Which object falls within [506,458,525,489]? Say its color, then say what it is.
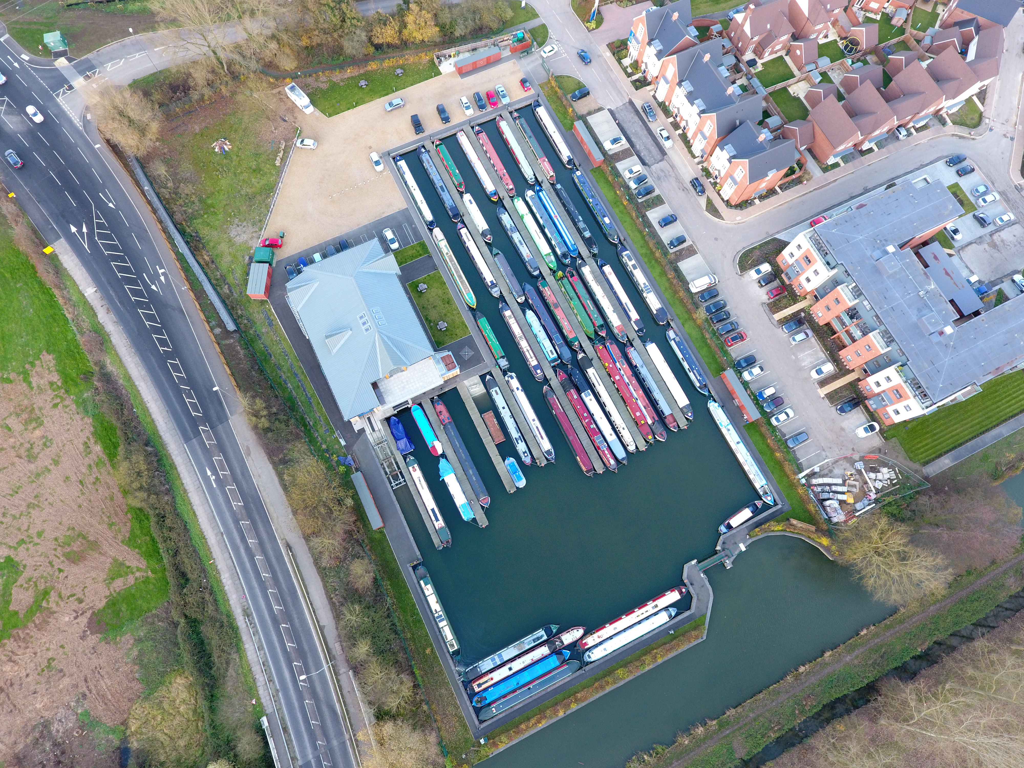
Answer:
blue boat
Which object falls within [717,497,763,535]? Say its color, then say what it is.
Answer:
white boat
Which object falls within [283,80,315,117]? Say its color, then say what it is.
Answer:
white camper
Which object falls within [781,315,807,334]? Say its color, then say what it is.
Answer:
blue car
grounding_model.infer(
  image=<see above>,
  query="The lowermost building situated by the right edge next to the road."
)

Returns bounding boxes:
[777,182,1024,426]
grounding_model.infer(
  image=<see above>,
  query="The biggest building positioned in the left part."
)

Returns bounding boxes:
[286,236,461,429]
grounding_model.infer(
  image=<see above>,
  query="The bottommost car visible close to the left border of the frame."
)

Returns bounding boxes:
[4,150,25,170]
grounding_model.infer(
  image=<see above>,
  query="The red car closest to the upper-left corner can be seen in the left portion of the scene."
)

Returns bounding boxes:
[260,237,283,250]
